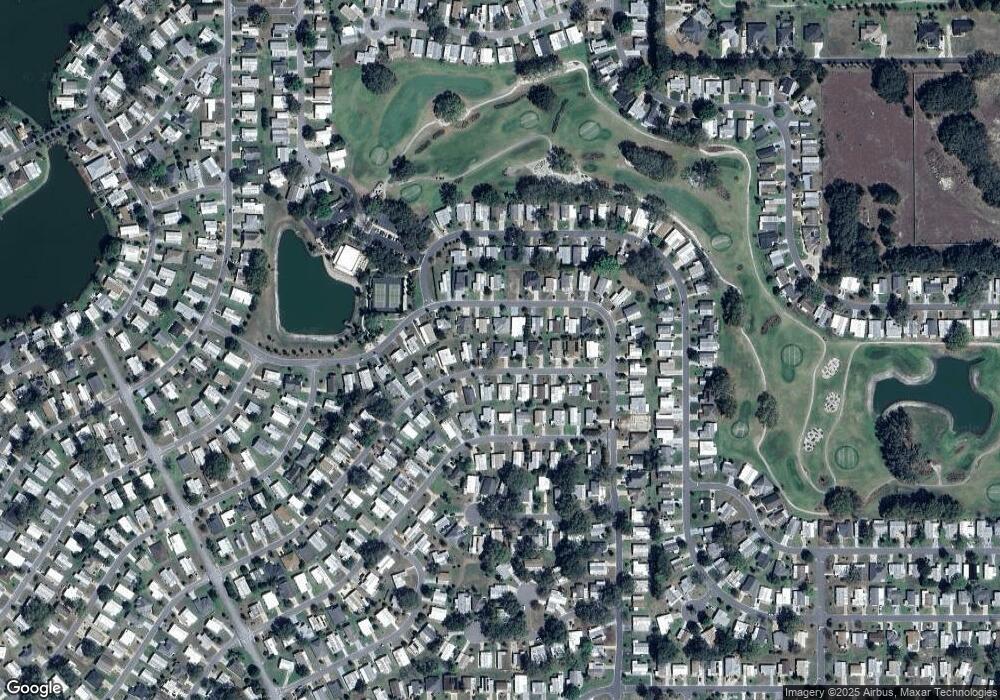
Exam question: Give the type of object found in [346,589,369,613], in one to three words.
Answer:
house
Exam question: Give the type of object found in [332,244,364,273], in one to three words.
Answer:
building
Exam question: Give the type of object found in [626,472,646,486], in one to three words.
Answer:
house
